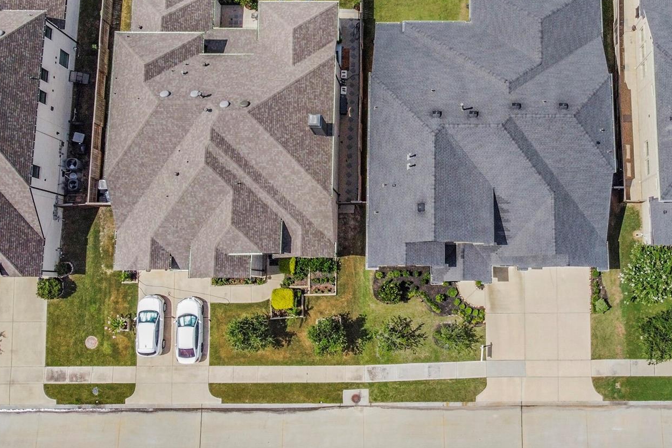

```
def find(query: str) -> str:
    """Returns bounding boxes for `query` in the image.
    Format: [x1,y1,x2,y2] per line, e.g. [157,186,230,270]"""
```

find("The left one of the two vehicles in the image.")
[135,295,168,358]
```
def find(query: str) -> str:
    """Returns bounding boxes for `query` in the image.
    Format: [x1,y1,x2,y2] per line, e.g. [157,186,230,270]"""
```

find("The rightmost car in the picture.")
[172,297,205,365]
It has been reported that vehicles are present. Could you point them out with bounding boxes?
[172,297,205,365]
[135,295,168,358]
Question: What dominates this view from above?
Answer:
buildings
